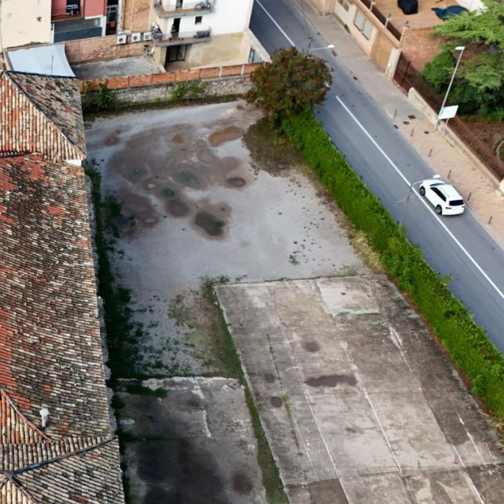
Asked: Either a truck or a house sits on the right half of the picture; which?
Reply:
house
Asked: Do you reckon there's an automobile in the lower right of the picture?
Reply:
No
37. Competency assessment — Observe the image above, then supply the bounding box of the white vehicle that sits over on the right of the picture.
[421,181,468,217]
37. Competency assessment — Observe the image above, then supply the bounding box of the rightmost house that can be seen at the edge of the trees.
[323,0,419,85]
